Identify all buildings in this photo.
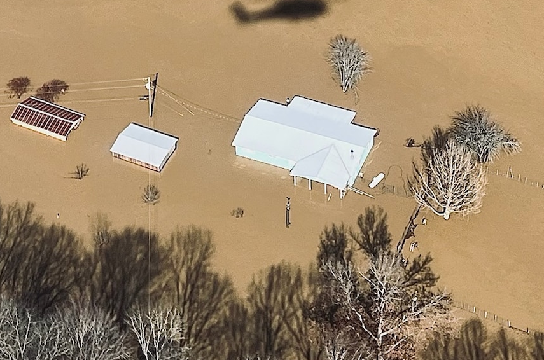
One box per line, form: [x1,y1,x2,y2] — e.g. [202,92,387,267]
[230,95,377,198]
[107,123,181,173]
[8,97,87,141]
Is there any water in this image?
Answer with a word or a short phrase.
Yes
